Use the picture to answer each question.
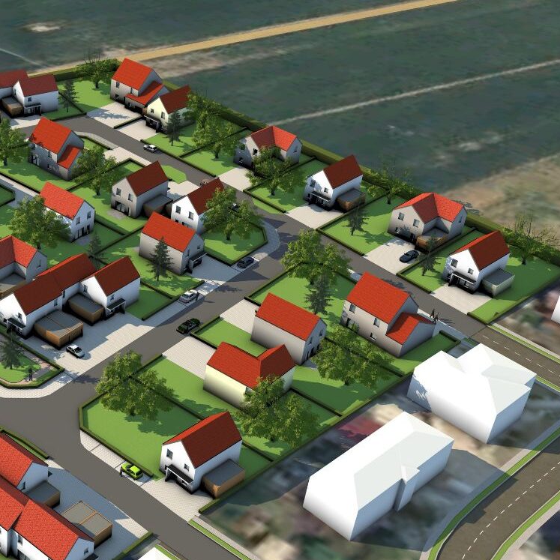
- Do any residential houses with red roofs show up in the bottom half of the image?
Yes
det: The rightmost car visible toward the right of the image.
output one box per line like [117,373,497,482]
[397,250,422,262]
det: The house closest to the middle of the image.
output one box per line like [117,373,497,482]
[247,293,327,364]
